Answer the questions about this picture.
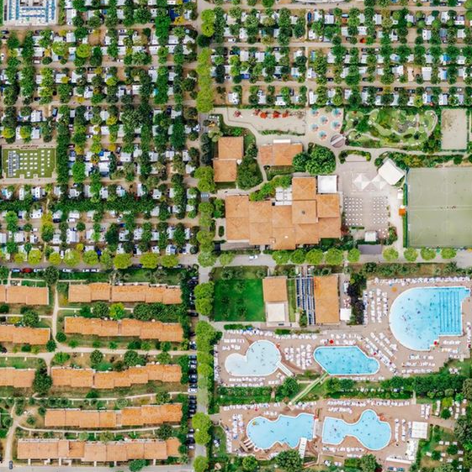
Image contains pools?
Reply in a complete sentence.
Yes, looking at the shot, I can spot a pool.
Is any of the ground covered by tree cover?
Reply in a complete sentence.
Yes, tree cover can be seen from above here.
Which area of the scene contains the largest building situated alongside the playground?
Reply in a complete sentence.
The largest building situated alongside the playground is in the center part of the image.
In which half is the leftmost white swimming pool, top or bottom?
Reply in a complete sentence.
You can find the leftmost white swimming pool in the bottom half.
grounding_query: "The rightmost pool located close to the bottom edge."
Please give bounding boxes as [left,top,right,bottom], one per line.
[321,409,392,451]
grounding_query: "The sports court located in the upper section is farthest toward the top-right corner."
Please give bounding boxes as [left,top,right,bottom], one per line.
[441,109,467,149]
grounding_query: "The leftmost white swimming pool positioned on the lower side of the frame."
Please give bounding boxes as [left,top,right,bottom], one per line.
[225,341,282,376]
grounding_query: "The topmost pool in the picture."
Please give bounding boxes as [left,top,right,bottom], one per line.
[388,286,471,351]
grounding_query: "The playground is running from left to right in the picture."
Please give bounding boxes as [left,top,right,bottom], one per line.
[211,106,345,149]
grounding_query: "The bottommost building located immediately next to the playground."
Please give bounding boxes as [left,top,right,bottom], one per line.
[226,175,341,250]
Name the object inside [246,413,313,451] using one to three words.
swimming pool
